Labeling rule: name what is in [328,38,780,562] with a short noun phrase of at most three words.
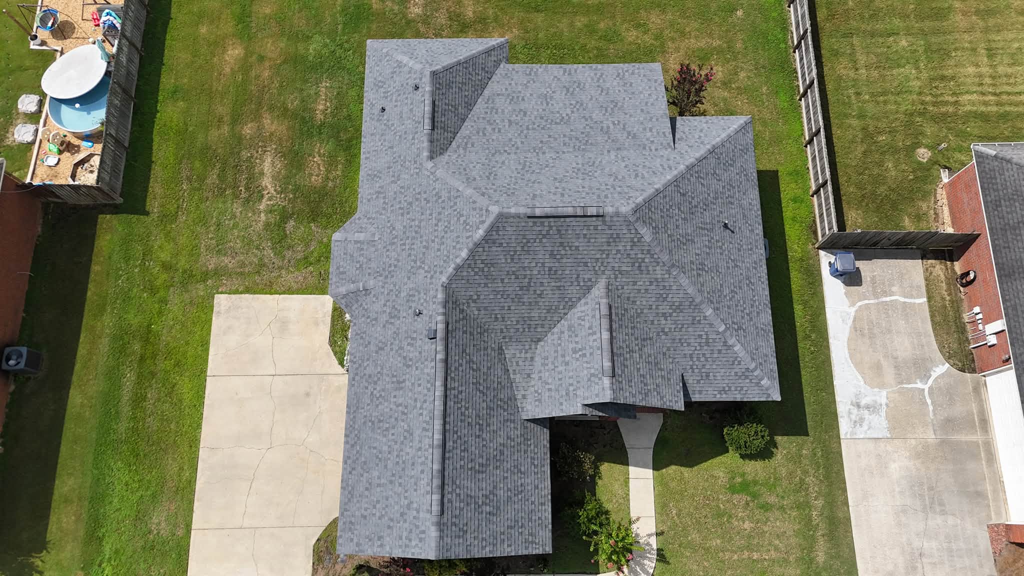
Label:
house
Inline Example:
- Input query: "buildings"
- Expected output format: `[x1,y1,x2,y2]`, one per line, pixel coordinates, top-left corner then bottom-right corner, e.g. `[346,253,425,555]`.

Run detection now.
[939,141,1024,547]
[0,159,41,439]
[328,38,780,562]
